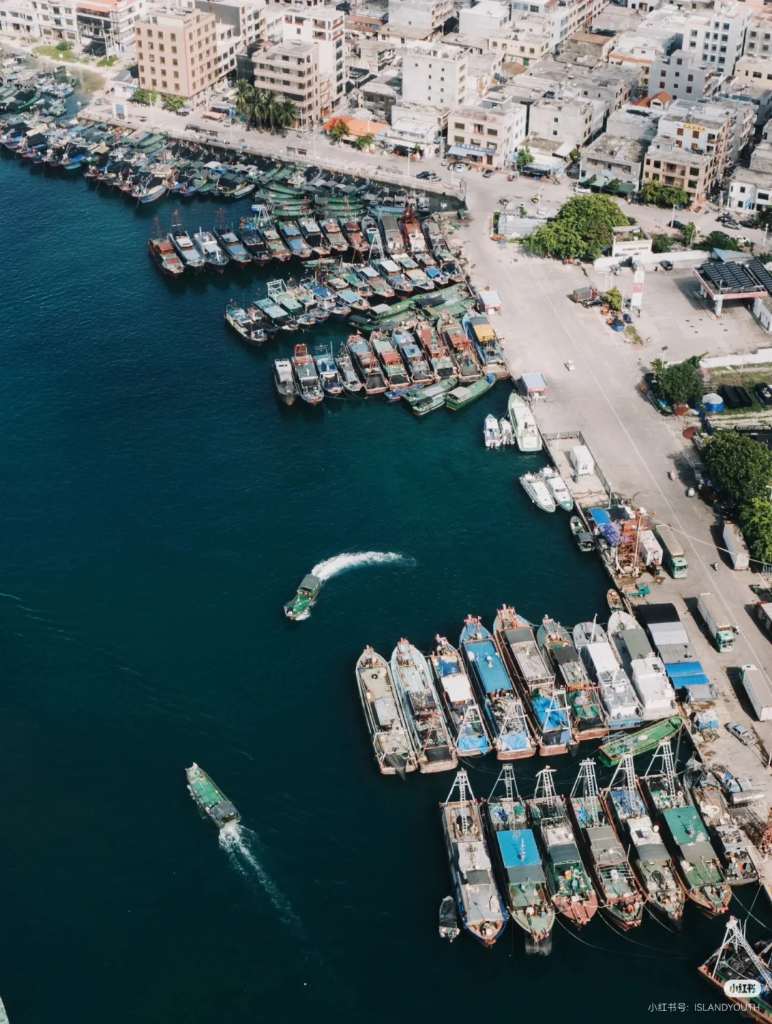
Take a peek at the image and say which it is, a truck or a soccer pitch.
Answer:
truck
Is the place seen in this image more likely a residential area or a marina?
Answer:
marina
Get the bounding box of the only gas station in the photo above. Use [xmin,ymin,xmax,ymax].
[697,246,772,317]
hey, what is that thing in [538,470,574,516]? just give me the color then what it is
white boat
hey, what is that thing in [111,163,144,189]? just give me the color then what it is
gray boat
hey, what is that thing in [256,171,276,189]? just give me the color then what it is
gray boat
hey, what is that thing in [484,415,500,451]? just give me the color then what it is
white boat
